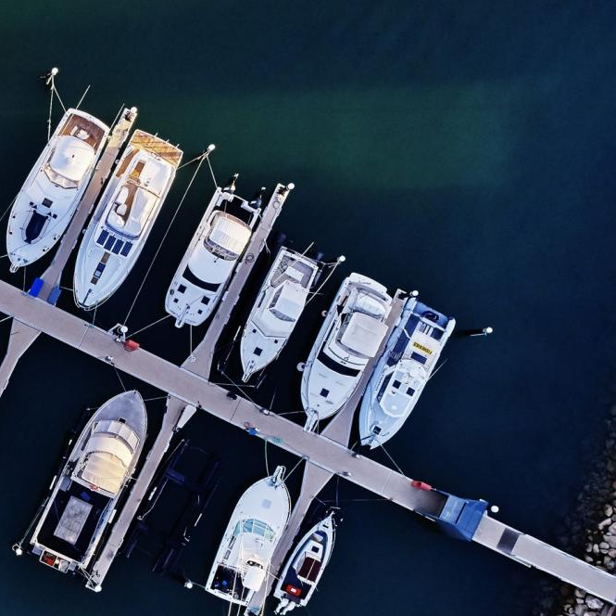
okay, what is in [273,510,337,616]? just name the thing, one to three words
boat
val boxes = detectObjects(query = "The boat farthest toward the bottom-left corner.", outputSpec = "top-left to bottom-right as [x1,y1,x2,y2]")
[29,389,147,573]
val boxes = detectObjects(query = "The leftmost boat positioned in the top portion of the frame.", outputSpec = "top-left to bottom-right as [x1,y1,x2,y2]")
[6,85,124,272]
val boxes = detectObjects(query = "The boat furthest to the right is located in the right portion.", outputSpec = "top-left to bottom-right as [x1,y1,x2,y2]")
[359,297,457,450]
